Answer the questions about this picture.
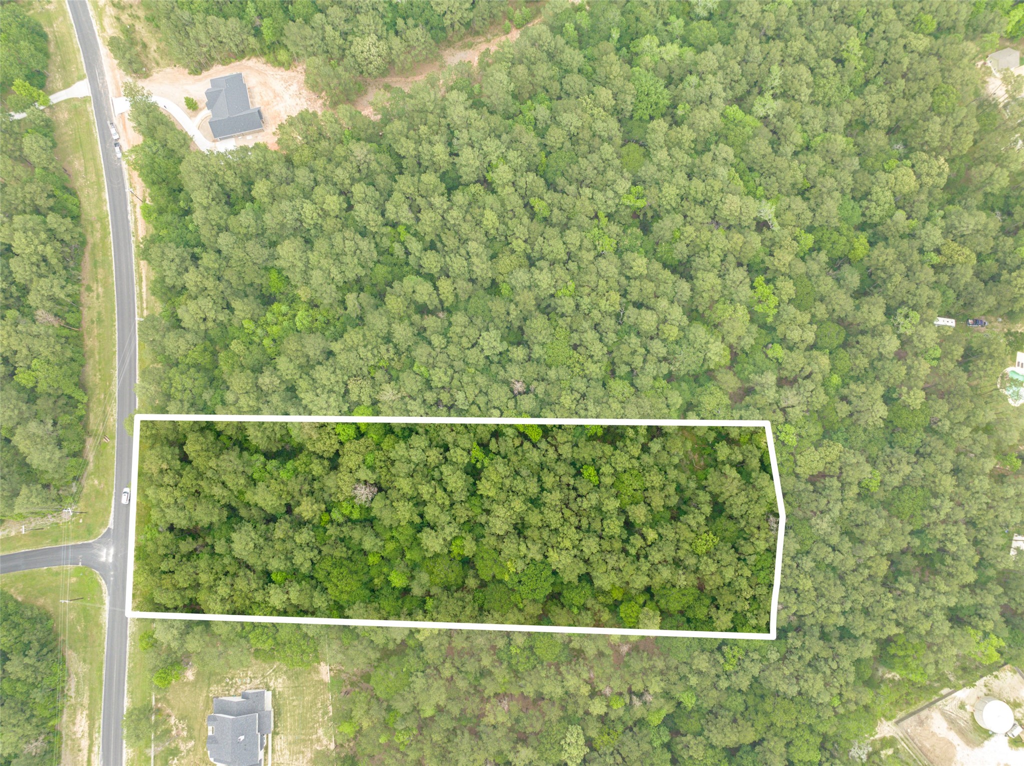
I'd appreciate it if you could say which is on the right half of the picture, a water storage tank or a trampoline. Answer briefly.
water storage tank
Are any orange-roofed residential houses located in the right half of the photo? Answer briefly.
No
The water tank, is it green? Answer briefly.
No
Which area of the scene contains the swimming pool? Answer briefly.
right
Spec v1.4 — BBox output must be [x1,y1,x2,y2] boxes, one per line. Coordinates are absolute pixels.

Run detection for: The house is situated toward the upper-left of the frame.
[203,74,266,142]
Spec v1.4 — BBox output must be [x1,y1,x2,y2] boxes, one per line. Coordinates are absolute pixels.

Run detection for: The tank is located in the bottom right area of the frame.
[973,696,1016,735]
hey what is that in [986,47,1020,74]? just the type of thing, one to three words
house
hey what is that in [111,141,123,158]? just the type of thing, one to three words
vehicle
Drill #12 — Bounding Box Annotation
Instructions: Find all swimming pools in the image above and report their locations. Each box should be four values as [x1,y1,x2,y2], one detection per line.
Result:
[997,365,1024,408]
